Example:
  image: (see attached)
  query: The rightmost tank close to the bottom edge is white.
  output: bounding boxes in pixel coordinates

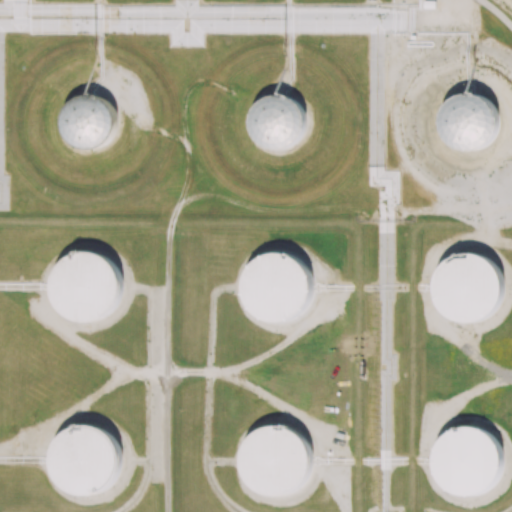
[429,426,505,498]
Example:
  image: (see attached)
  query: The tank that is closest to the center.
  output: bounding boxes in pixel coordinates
[238,250,314,325]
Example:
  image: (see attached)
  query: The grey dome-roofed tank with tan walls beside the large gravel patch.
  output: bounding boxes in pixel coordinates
[58,61,118,152]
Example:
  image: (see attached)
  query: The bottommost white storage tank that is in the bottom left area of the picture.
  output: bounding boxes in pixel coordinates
[46,424,122,497]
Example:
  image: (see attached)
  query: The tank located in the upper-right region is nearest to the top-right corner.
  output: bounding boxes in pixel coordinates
[436,62,500,154]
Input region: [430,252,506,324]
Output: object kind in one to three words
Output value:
storage tank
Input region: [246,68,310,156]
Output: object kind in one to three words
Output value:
storage tank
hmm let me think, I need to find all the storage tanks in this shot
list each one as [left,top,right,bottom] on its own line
[46,424,122,497]
[246,68,310,156]
[58,61,118,152]
[48,251,124,324]
[429,426,505,498]
[436,62,500,154]
[238,250,314,325]
[236,424,312,498]
[430,252,506,324]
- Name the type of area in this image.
industrial area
